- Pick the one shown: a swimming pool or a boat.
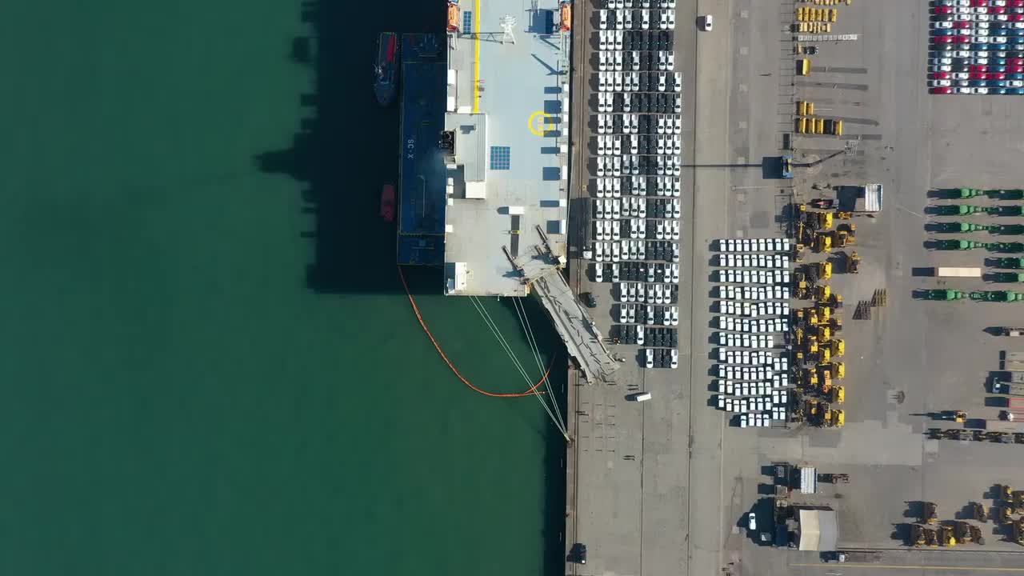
boat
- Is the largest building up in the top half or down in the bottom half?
bottom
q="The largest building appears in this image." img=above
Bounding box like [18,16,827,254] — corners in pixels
[796,507,838,551]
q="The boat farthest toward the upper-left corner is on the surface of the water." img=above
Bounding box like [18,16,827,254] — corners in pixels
[375,33,399,107]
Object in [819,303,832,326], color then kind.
yellow vehicle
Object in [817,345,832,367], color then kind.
yellow work vehicle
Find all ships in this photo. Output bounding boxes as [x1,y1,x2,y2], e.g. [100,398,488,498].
[439,0,620,384]
[398,33,447,265]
